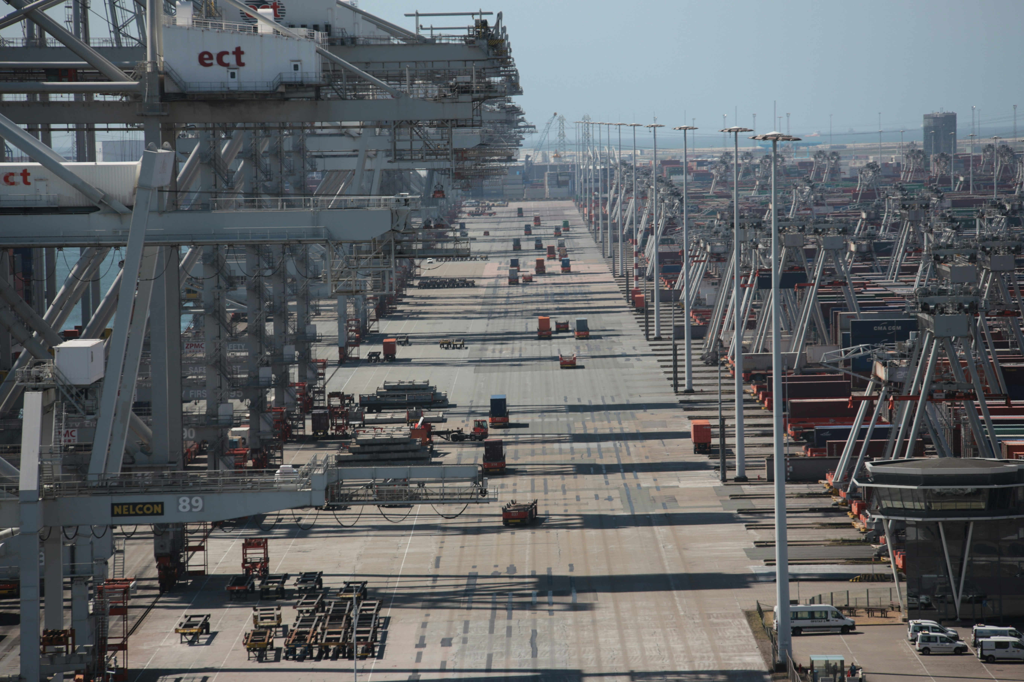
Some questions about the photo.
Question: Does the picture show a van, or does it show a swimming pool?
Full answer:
Looking from above, you can make out a van.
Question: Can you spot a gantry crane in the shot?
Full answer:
Yes, the photo shows a gantry crane.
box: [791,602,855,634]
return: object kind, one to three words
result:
van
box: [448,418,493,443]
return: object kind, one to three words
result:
work vehicle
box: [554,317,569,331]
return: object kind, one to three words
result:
vehicle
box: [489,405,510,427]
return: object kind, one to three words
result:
vehicle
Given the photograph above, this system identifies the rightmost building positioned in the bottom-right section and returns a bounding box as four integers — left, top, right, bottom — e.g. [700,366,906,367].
[859,455,1024,621]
